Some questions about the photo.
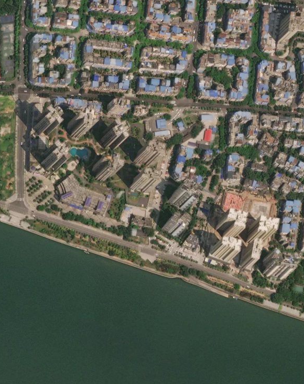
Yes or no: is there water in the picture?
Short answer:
Yes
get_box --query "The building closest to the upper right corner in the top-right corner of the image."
[278,8,304,37]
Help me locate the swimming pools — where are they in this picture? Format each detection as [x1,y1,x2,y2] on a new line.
[69,147,89,159]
